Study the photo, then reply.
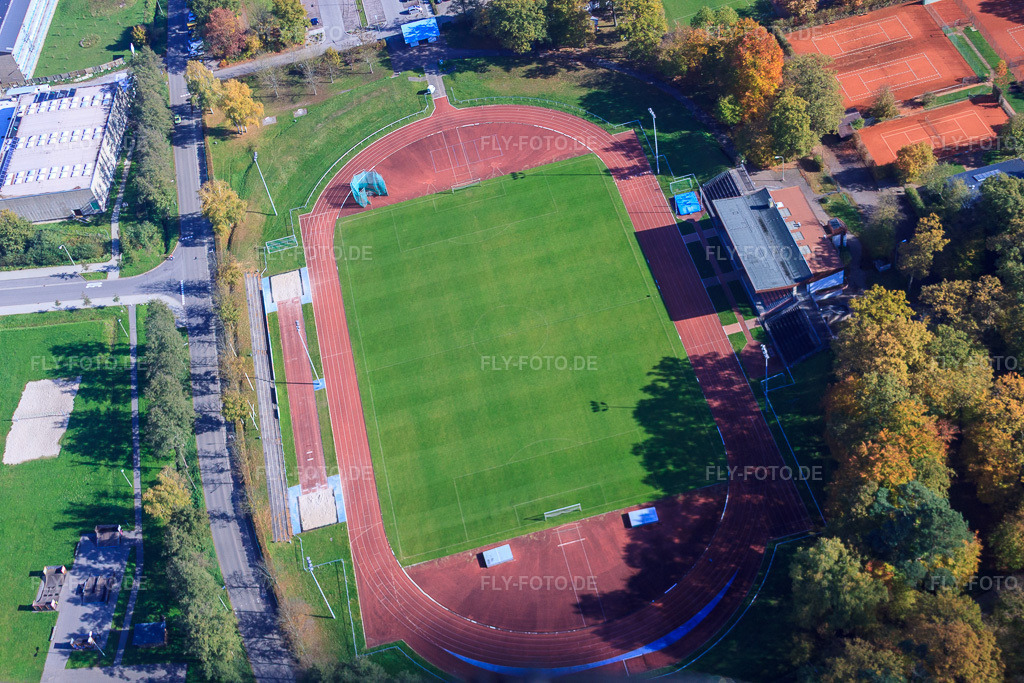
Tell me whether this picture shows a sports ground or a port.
sports ground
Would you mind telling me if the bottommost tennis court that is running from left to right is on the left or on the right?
right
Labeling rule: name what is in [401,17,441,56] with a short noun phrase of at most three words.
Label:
building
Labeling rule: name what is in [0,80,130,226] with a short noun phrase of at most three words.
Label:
building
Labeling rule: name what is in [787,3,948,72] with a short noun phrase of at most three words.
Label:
tennis court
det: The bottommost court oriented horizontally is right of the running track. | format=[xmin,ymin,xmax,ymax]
[861,95,1008,168]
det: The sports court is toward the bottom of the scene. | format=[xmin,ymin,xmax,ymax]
[4,377,81,463]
